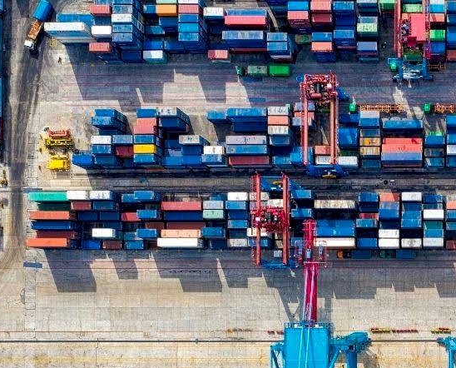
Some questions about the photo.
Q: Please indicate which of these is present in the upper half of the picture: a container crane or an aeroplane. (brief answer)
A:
container crane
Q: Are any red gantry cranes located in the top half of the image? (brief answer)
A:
Yes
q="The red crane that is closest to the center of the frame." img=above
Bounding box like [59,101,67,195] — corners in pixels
[251,174,310,267]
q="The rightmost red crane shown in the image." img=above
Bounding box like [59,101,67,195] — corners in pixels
[392,0,438,79]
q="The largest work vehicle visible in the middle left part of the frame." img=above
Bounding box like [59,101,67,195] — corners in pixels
[41,153,71,175]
